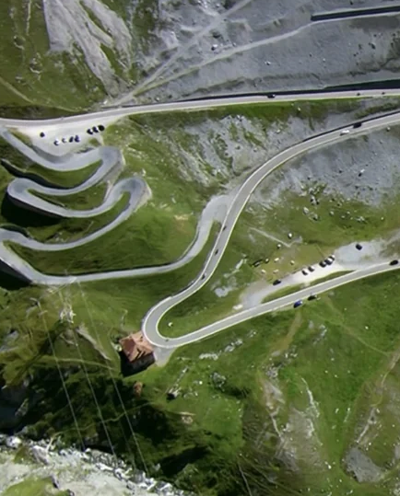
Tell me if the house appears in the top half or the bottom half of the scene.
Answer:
bottom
